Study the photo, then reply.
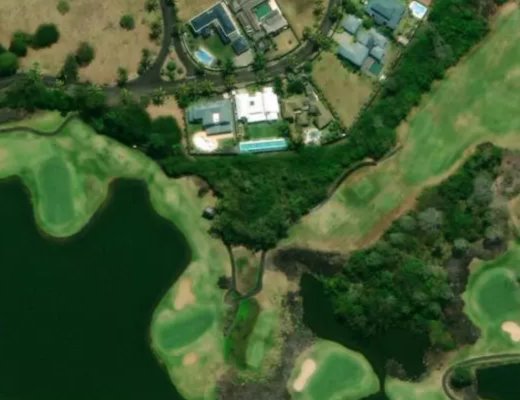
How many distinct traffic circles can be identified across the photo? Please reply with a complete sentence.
Not a single traffic circle can be seen.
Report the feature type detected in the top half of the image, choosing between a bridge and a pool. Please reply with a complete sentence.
What appears in the top half of the image is a pool.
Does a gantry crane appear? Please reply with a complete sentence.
No, there's no gantry crane here.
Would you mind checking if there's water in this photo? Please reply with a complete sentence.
Yes, there's water in this view.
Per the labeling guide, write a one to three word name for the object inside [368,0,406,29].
house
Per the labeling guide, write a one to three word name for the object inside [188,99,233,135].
building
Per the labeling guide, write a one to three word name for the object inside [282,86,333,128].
house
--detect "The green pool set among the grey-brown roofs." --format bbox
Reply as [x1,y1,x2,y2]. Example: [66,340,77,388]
[253,2,272,19]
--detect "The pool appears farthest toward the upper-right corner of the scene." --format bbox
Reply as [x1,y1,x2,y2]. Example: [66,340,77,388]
[409,1,427,19]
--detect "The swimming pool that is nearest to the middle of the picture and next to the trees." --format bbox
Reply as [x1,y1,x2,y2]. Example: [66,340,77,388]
[240,139,286,154]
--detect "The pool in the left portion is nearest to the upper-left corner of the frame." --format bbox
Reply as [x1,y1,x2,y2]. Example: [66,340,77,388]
[194,46,217,67]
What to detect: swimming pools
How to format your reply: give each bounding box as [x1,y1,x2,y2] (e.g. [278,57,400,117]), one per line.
[409,1,427,19]
[194,46,217,67]
[240,139,286,154]
[253,2,272,19]
[368,60,384,76]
